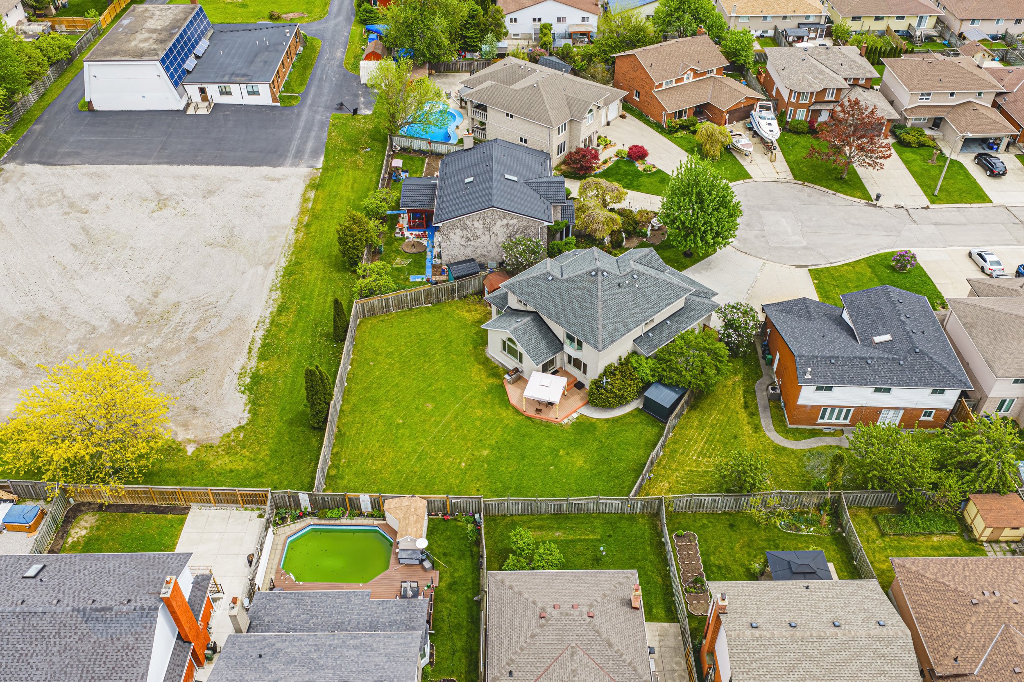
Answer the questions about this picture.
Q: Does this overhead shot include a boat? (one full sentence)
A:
Yes, the photo shows a boat.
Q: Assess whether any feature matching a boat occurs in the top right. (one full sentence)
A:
Yes, there is a boat in the top right.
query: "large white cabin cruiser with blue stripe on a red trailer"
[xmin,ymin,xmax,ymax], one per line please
[751,97,780,155]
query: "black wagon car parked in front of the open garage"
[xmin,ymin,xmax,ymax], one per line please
[975,153,1010,175]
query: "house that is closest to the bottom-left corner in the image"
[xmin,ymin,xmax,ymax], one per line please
[0,552,230,682]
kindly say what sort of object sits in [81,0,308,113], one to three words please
building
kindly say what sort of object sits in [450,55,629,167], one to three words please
house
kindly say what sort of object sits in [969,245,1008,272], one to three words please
car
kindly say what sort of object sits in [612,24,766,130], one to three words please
house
